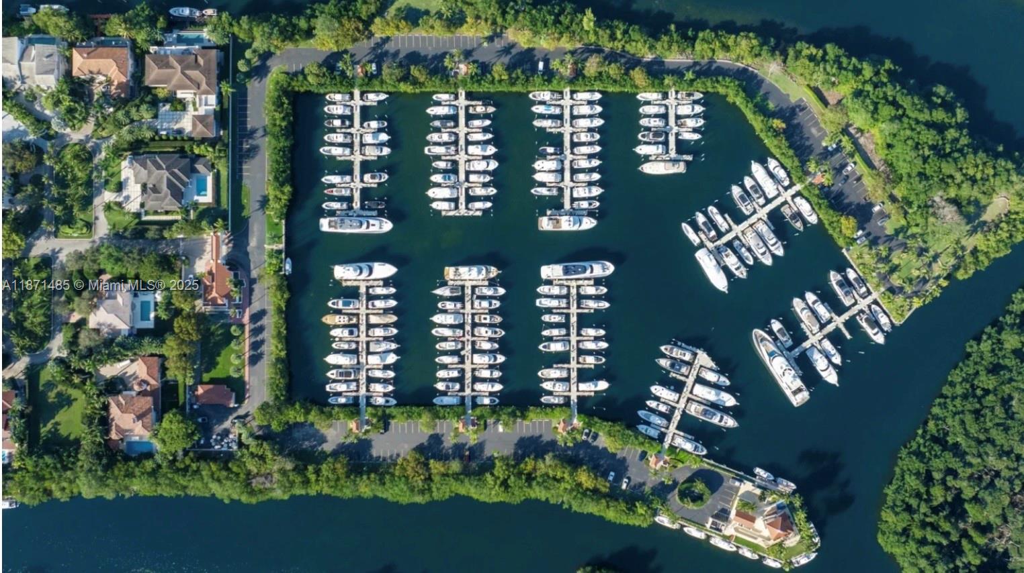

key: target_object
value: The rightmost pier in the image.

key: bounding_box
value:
[774,288,884,376]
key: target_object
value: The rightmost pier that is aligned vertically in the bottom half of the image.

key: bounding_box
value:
[651,340,711,454]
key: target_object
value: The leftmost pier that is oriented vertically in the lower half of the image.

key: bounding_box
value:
[342,280,383,429]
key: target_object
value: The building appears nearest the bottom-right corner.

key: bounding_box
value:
[724,499,800,548]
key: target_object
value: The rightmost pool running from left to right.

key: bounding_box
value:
[176,31,203,43]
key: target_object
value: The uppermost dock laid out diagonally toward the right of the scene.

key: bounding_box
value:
[698,178,810,266]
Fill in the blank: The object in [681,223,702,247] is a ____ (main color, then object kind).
white boat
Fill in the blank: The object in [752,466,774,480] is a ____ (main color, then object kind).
white boat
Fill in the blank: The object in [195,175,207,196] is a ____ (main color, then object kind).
blue swimming pool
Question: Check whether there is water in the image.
Yes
